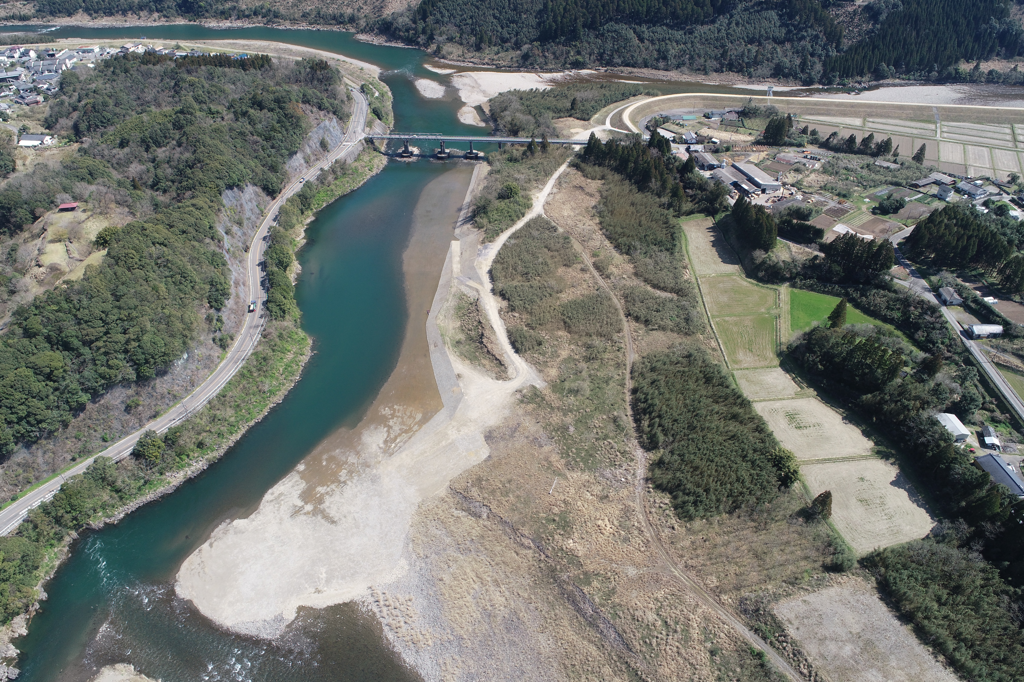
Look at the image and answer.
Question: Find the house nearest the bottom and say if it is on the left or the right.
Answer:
right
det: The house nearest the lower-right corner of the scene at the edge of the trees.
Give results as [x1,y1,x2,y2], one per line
[976,449,1024,496]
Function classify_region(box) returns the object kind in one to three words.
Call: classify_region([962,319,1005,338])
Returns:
building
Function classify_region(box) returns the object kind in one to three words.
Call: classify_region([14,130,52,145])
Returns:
house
